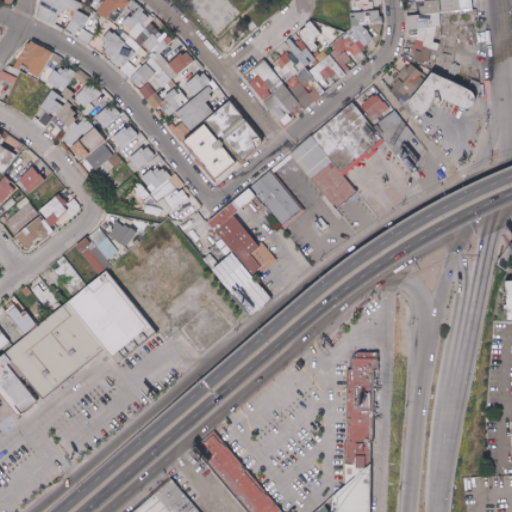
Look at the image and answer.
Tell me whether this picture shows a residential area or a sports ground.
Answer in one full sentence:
It's a residential area.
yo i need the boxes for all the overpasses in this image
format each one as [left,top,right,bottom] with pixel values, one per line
[43,168,512,512]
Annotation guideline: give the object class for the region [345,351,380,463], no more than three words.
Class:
building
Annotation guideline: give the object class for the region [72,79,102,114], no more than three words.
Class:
house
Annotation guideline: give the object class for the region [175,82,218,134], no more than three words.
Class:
house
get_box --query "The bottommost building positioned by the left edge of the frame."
[0,354,37,412]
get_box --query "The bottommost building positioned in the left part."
[128,479,200,512]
